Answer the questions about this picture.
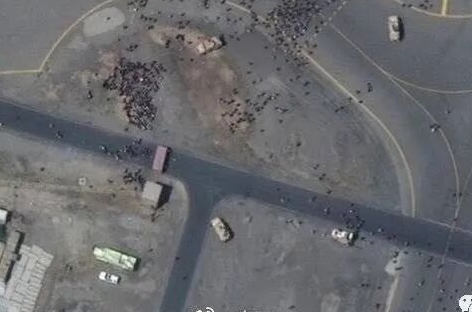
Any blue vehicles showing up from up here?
No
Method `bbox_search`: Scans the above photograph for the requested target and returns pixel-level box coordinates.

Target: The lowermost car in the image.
[100,272,119,284]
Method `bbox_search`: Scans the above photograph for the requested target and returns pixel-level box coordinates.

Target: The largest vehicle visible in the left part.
[92,247,137,272]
